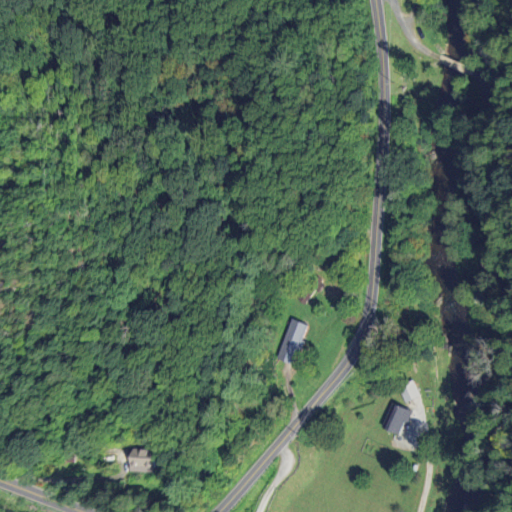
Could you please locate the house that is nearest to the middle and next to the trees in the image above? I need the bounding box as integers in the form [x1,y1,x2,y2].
[278,320,310,366]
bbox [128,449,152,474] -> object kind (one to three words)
house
